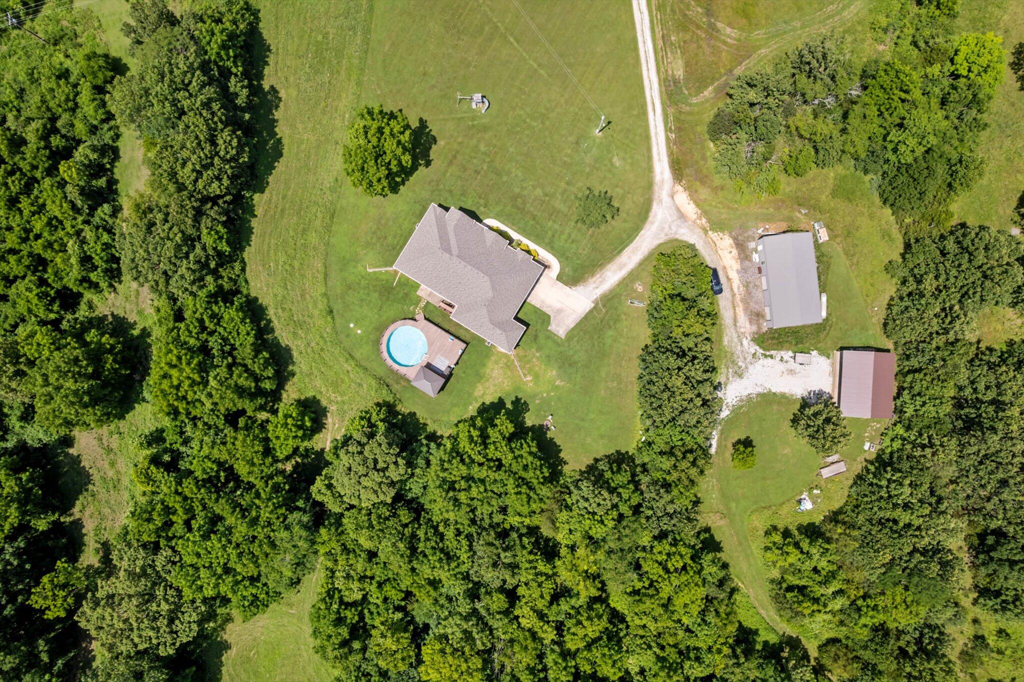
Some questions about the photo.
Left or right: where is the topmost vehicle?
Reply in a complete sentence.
The topmost vehicle appears in the right half of the scene.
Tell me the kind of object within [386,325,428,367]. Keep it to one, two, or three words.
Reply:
swimming pool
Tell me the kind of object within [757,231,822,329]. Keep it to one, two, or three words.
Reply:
building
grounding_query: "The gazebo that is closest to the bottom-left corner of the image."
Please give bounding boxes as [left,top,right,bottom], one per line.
[412,366,445,397]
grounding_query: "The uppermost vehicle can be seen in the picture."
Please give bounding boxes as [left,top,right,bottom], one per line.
[812,219,834,244]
